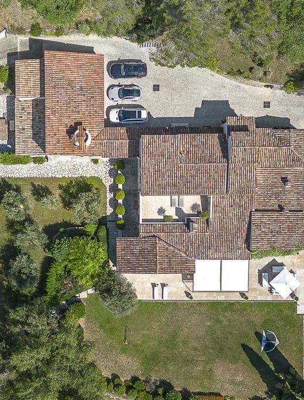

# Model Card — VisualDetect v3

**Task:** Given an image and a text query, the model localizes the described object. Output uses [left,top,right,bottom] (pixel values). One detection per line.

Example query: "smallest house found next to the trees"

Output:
[14,50,143,158]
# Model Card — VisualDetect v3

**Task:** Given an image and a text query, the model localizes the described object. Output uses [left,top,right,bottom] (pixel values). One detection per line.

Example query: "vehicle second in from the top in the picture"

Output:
[107,83,143,102]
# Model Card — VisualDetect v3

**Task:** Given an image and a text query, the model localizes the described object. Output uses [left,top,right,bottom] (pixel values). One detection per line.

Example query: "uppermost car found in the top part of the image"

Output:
[109,59,149,79]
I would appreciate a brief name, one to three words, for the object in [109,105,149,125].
car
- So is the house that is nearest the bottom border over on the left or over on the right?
right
